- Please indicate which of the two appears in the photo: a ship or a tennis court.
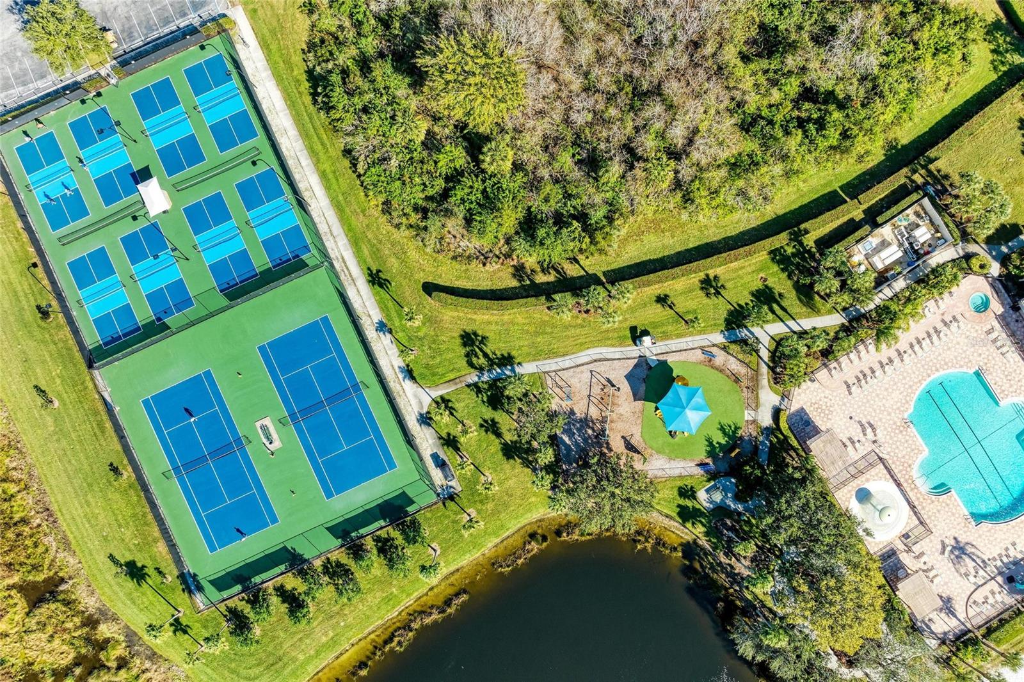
tennis court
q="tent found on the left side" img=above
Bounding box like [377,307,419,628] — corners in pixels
[137,177,174,219]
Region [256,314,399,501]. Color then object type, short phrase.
blue tennis court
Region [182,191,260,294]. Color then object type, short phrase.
blue sports court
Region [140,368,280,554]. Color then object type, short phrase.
blue tennis court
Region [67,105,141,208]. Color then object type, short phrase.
blue sports court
